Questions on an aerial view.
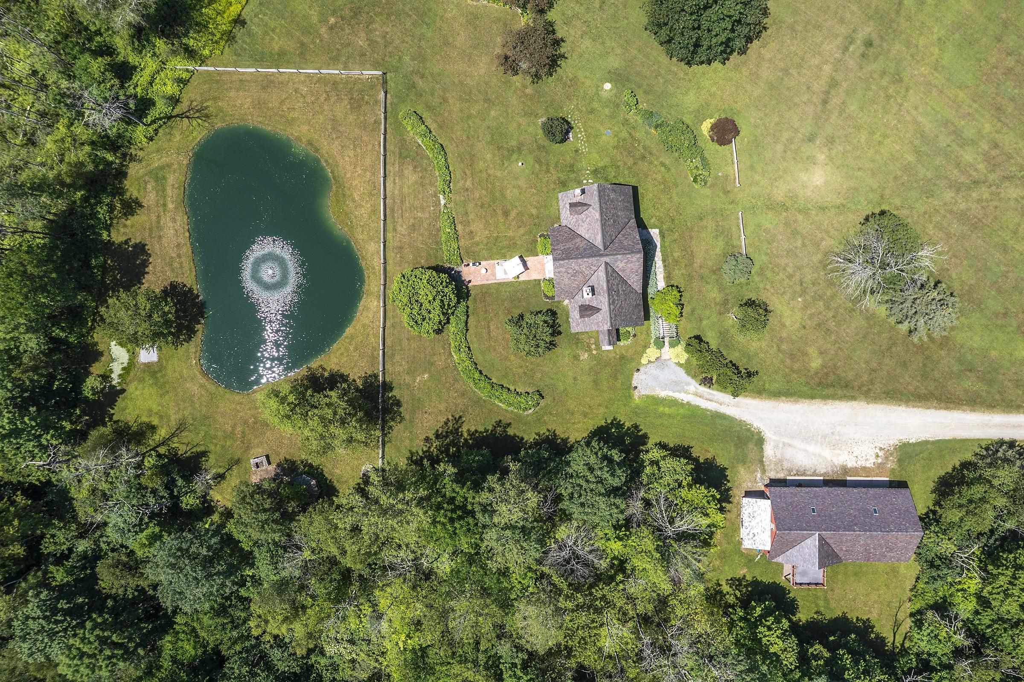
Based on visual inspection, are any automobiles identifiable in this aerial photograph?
No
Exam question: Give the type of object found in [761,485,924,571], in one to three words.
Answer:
barn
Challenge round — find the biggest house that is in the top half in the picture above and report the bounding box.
[548,184,644,351]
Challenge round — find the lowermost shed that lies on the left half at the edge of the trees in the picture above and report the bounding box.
[138,342,159,365]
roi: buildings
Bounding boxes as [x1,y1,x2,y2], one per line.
[138,342,159,365]
[548,184,644,351]
[761,485,924,571]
